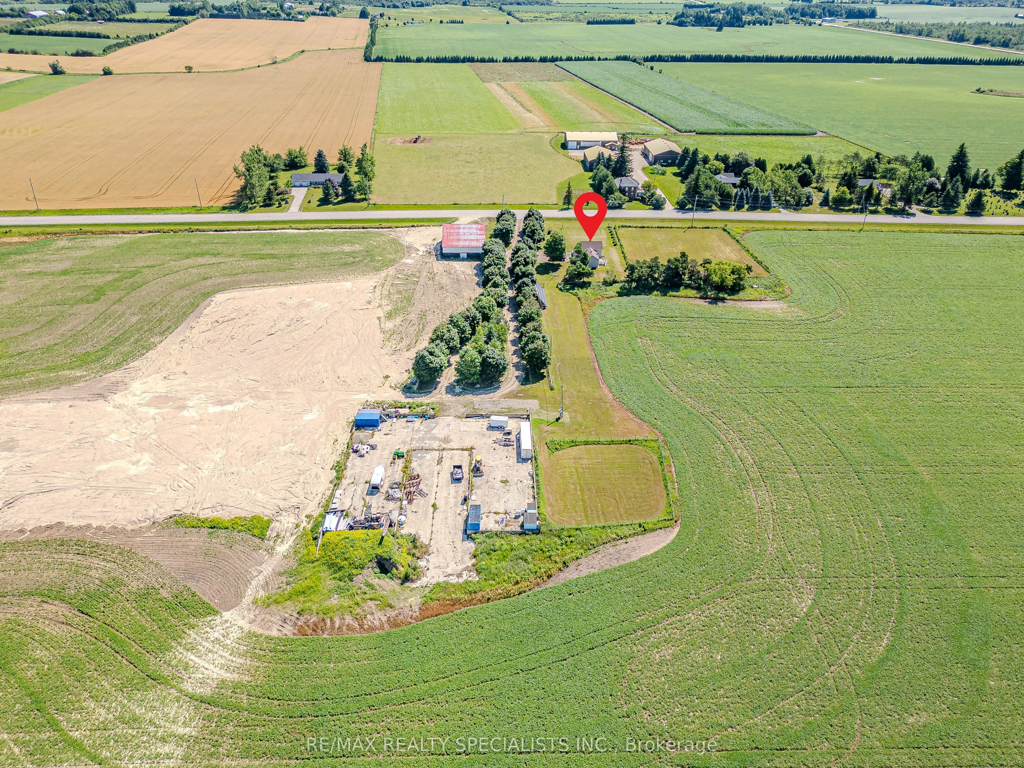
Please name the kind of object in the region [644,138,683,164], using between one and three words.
barn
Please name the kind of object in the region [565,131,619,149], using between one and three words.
barn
